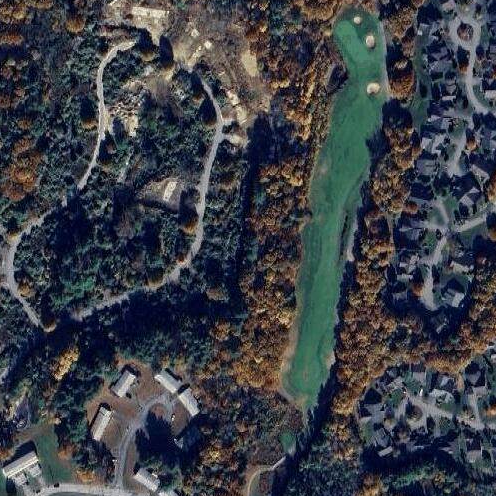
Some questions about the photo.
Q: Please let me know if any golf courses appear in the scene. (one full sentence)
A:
Yes, the frame does contain a golf course.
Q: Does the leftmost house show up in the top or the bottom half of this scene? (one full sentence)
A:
Seen from above, the leftmost house lies in the bottom half of the view.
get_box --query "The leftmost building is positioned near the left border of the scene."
[1,450,42,484]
